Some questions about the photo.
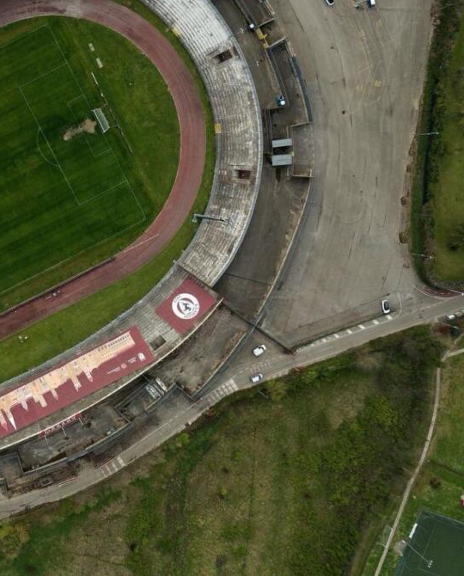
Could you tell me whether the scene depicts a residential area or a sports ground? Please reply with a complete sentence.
The picture captures a sports ground.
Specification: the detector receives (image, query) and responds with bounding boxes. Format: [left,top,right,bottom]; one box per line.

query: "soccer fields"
[0,20,152,298]
[398,511,464,576]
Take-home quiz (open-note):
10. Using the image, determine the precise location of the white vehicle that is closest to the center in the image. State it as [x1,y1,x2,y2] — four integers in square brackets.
[253,345,267,357]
